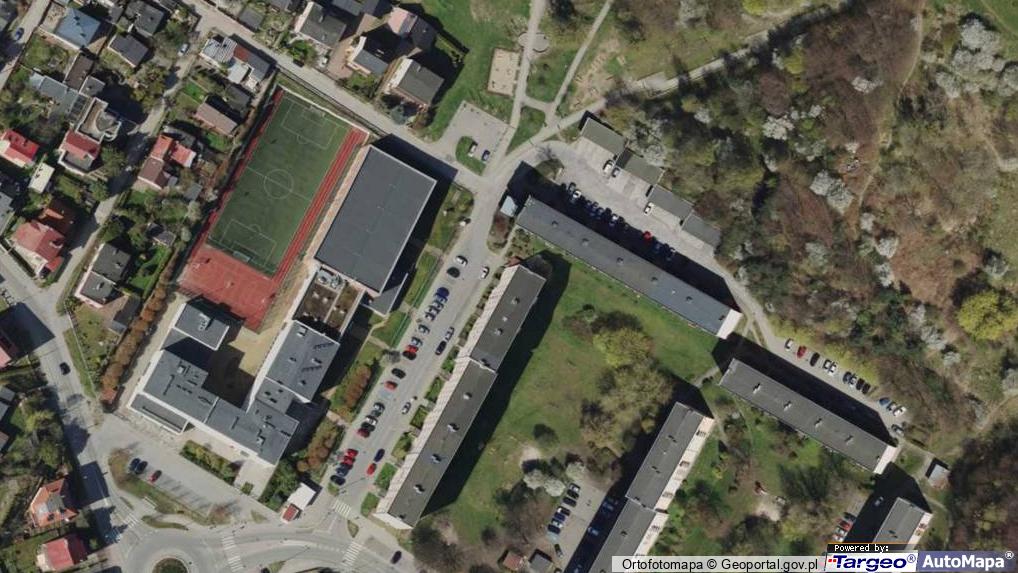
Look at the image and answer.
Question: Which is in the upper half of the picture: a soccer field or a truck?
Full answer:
Looking in the upper half of the picture, you will find a soccer field.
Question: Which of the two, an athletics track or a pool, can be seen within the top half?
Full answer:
Looking within the top half, you will find an athletics track.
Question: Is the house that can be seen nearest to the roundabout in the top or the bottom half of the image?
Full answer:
The house that can be seen nearest to the roundabout is in the bottom half of the image.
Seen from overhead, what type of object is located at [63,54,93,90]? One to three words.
shed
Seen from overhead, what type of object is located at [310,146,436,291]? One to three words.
building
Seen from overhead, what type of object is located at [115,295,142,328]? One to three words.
building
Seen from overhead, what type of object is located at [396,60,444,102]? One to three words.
house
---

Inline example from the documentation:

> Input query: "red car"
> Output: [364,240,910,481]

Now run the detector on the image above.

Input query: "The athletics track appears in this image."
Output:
[178,86,369,287]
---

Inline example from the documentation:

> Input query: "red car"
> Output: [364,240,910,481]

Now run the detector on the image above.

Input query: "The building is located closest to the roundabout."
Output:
[41,534,90,572]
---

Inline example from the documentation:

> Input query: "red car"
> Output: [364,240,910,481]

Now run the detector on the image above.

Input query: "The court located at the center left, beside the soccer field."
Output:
[177,244,274,334]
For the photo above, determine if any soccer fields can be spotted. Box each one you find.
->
[209,91,350,278]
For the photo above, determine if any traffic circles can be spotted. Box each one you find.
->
[123,530,216,573]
